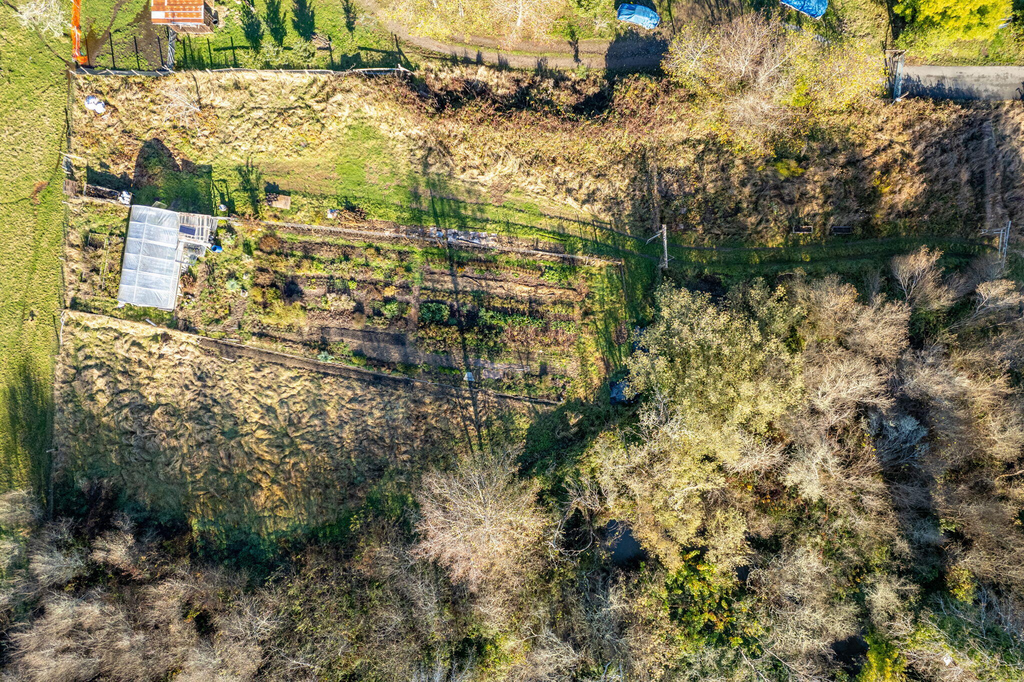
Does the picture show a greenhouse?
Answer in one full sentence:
Yes, you can see a greenhouse in this photo.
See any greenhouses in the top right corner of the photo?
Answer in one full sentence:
No, no greenhouse appears in the top right corner of the photo.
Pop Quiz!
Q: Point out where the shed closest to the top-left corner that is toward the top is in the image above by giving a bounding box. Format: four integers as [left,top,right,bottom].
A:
[148,0,215,35]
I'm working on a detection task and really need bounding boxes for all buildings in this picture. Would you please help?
[122,204,183,310]
[148,0,215,35]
